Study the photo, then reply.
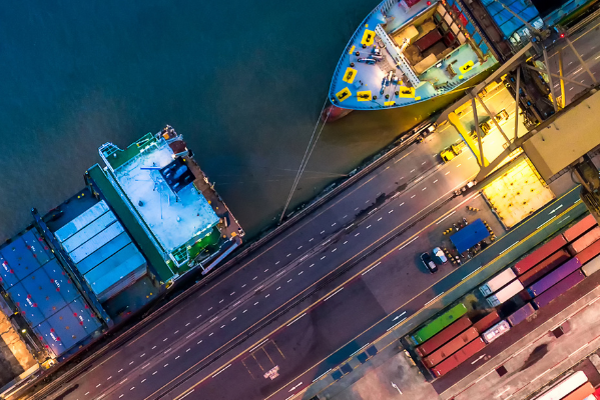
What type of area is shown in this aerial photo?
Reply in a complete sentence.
What you see here is a port.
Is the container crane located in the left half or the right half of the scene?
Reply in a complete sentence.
The container crane sits on the right side.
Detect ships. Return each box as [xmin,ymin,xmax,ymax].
[0,129,243,400]
[321,0,493,123]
